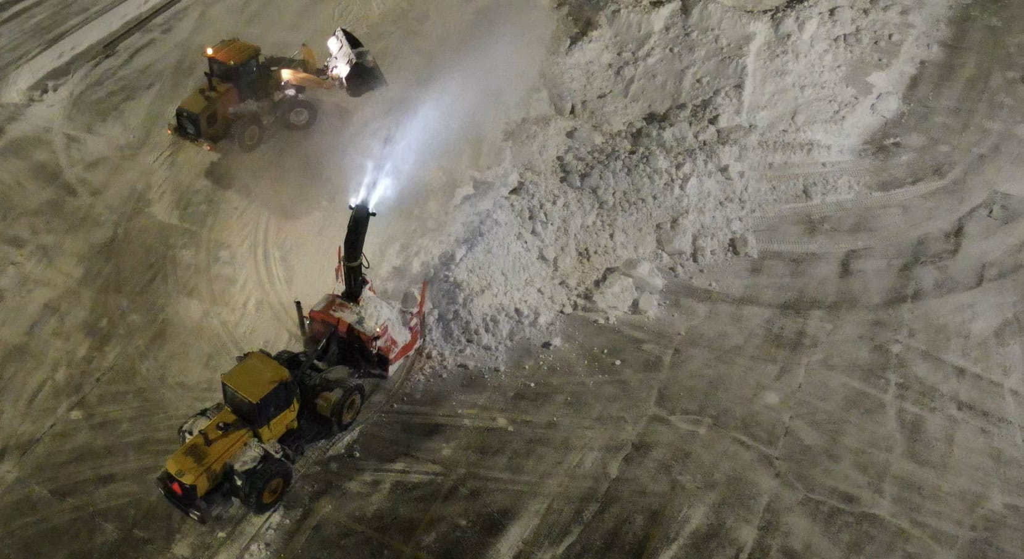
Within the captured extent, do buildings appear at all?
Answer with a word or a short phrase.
No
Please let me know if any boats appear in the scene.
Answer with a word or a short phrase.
No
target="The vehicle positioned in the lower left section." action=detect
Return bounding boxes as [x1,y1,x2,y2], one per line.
[152,329,362,529]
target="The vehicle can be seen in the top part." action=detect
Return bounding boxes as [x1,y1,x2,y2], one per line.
[169,30,394,155]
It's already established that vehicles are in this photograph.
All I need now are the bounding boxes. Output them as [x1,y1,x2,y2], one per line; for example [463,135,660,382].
[152,329,362,529]
[169,30,394,155]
